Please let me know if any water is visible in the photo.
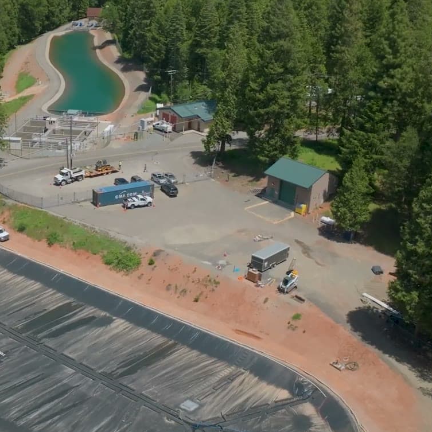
Yes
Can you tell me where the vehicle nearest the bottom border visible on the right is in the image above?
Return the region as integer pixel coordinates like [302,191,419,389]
[278,272,299,292]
